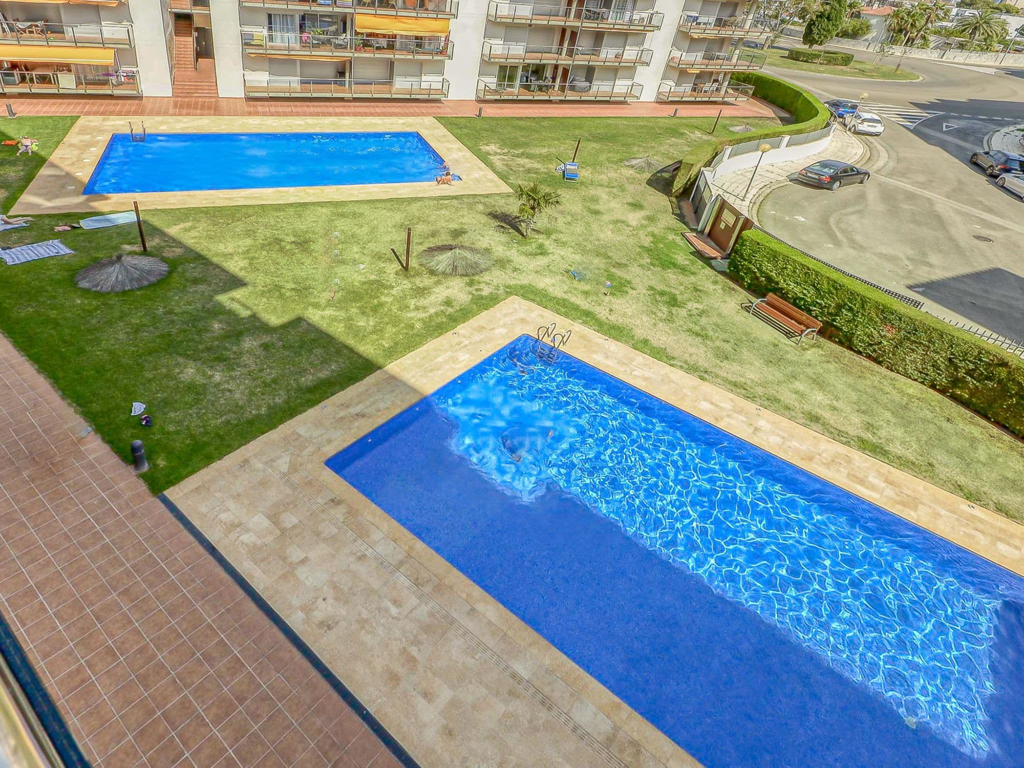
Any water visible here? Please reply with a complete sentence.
Yes, there's water in this view.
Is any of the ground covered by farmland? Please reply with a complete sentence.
No, there's no farmland in this view.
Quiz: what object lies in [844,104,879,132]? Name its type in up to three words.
car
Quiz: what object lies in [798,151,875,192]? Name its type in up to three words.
car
